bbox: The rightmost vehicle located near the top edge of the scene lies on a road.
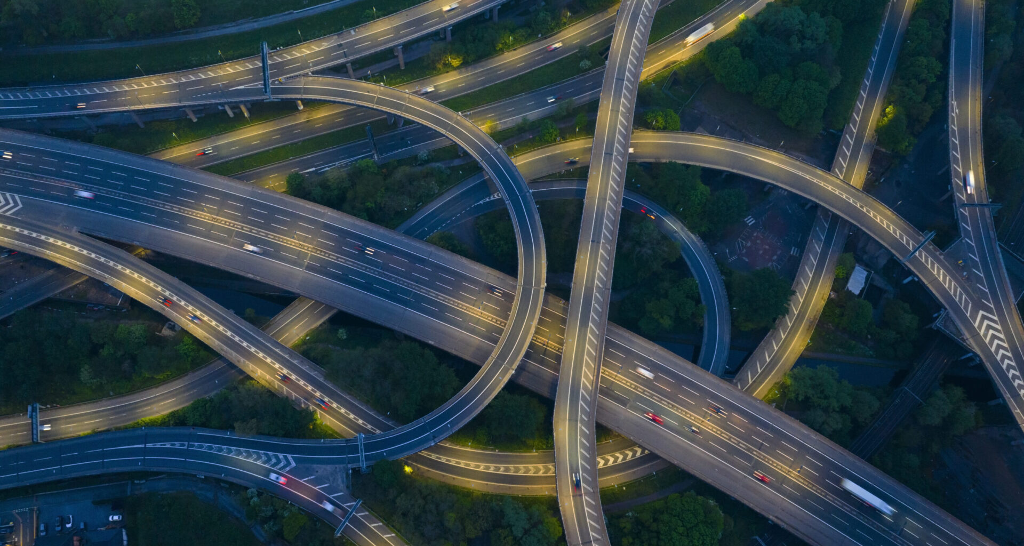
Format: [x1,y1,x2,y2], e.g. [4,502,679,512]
[688,22,714,43]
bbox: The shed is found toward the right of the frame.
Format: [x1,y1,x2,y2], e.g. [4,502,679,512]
[844,263,874,299]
